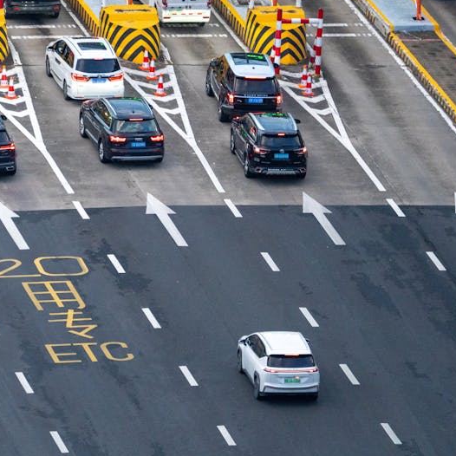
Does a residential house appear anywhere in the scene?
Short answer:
No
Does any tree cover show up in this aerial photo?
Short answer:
No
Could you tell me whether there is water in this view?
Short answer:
No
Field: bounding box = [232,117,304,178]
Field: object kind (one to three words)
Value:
car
